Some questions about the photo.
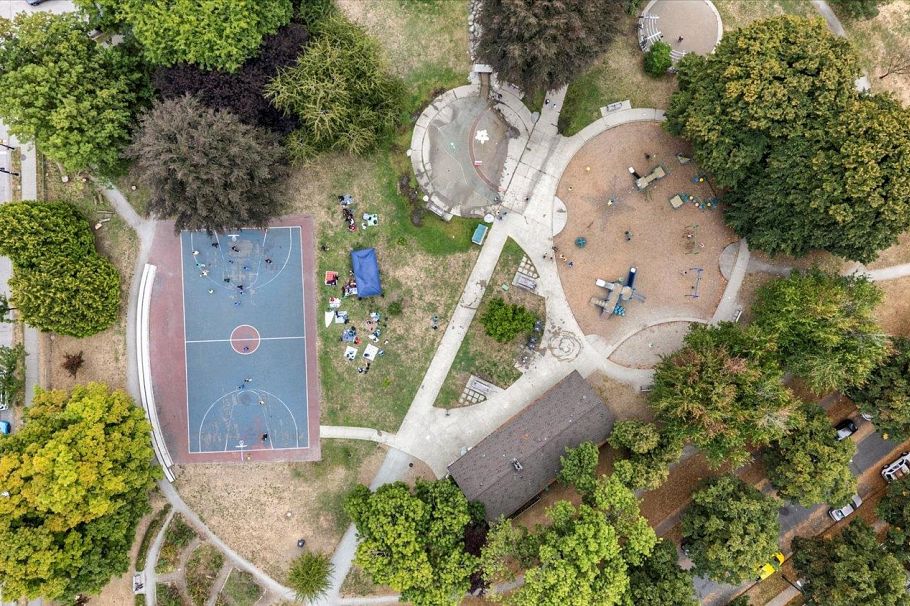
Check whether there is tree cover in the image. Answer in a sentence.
Yes, there's tree cover in this view.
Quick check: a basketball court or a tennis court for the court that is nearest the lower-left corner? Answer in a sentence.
I'd identify the court that is nearest the lower-left corner as a basketball court.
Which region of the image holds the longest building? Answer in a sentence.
The longest building appears toward the bottom of the photo.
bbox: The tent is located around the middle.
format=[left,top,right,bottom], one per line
[352,248,386,299]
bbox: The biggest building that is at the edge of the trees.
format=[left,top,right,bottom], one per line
[447,369,613,530]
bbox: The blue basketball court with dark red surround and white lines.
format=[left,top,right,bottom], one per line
[150,214,322,464]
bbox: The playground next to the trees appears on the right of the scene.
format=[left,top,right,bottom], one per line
[555,121,746,345]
